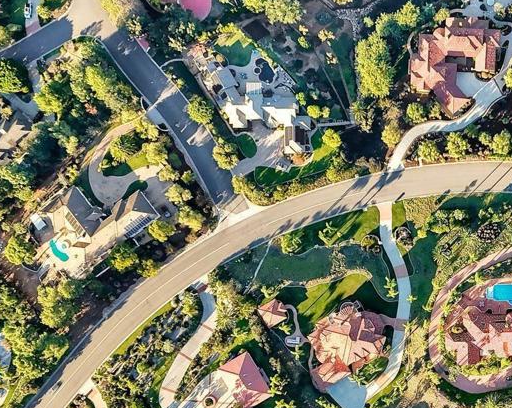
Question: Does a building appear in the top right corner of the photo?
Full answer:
Yes, there is a building in the top right corner of the photo.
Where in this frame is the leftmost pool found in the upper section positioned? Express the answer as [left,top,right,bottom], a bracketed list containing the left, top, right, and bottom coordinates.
[254,56,275,84]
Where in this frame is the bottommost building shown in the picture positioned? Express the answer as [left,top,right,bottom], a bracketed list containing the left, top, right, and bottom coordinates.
[219,351,273,408]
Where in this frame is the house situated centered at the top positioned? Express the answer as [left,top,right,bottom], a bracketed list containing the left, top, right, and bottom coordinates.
[214,64,312,143]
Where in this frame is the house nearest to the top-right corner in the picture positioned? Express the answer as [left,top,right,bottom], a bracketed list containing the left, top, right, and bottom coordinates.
[410,17,502,116]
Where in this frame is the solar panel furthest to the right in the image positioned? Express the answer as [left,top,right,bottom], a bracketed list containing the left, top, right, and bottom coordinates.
[127,207,152,228]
